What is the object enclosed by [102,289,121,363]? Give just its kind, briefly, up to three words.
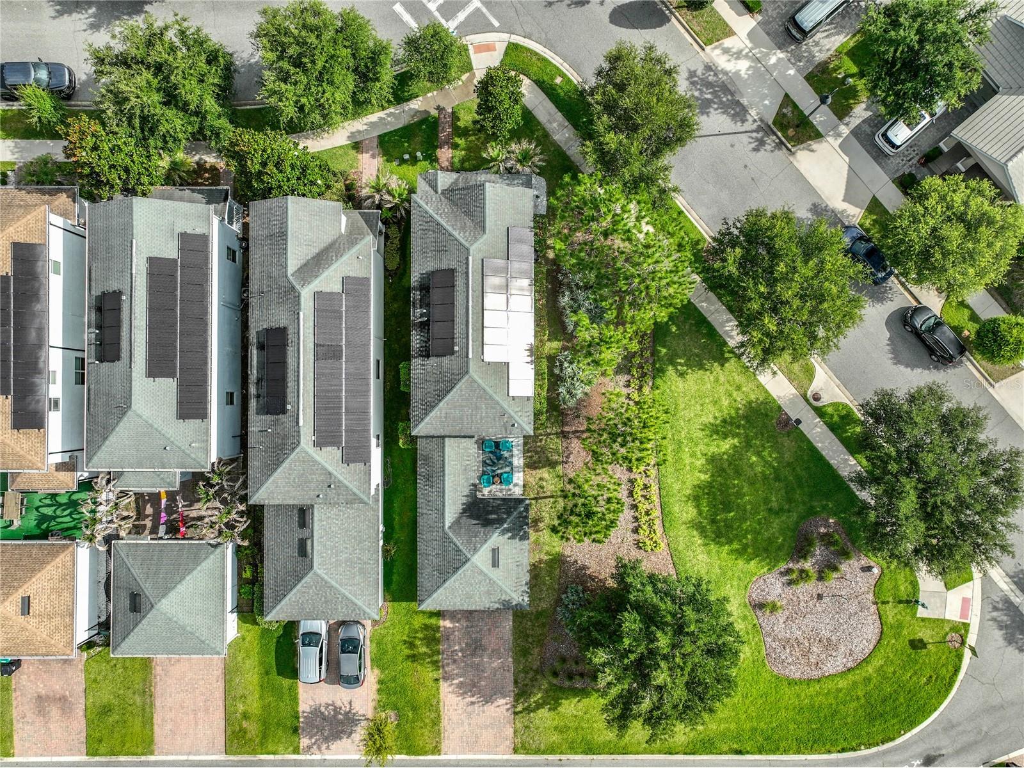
solar array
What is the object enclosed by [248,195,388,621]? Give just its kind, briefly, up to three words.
house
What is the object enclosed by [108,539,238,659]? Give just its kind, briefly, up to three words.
building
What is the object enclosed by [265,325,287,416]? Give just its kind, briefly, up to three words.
solar array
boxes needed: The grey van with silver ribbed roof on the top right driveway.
[783,0,849,42]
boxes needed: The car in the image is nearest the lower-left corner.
[296,620,331,680]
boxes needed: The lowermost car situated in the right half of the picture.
[900,302,969,370]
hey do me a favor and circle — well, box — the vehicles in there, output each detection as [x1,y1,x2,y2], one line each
[296,620,331,680]
[900,302,969,370]
[872,102,935,159]
[334,620,368,689]
[0,63,82,103]
[839,223,893,290]
[783,0,849,42]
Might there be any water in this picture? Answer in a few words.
No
